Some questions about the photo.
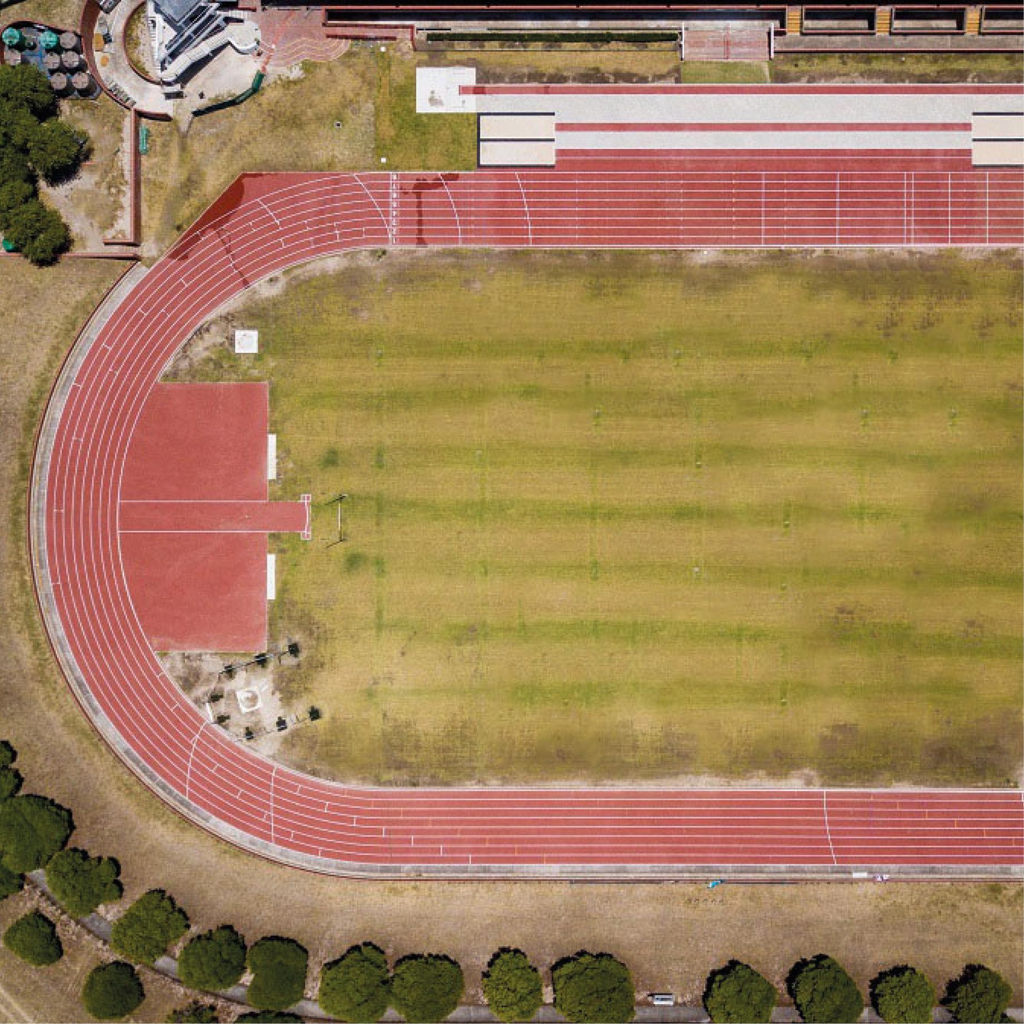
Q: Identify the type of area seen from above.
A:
sports ground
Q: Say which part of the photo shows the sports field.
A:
center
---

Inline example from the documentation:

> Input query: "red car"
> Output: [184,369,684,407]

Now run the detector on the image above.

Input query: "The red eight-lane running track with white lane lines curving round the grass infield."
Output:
[45,172,1024,865]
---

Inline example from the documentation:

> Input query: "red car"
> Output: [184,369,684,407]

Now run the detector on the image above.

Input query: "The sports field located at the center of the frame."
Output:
[119,246,1024,788]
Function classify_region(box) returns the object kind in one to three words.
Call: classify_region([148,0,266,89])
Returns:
building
